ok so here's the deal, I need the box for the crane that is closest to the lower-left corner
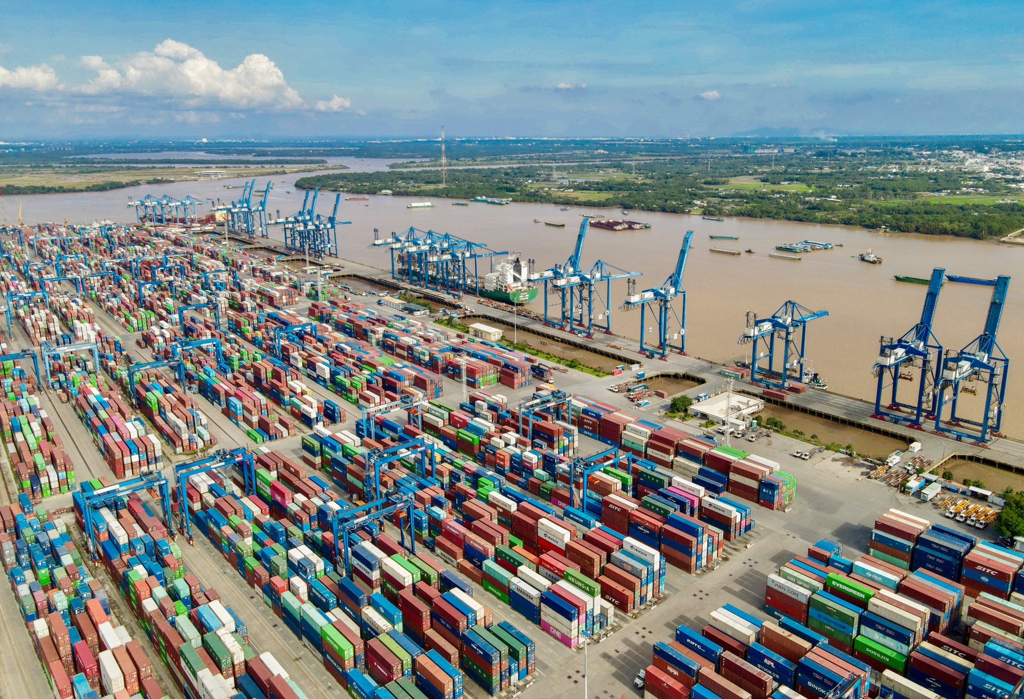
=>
[80,466,179,567]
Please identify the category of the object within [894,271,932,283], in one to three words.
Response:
ship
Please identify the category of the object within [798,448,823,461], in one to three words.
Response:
vehicle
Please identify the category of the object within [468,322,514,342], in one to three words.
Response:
building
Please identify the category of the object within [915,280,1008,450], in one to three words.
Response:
container crane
